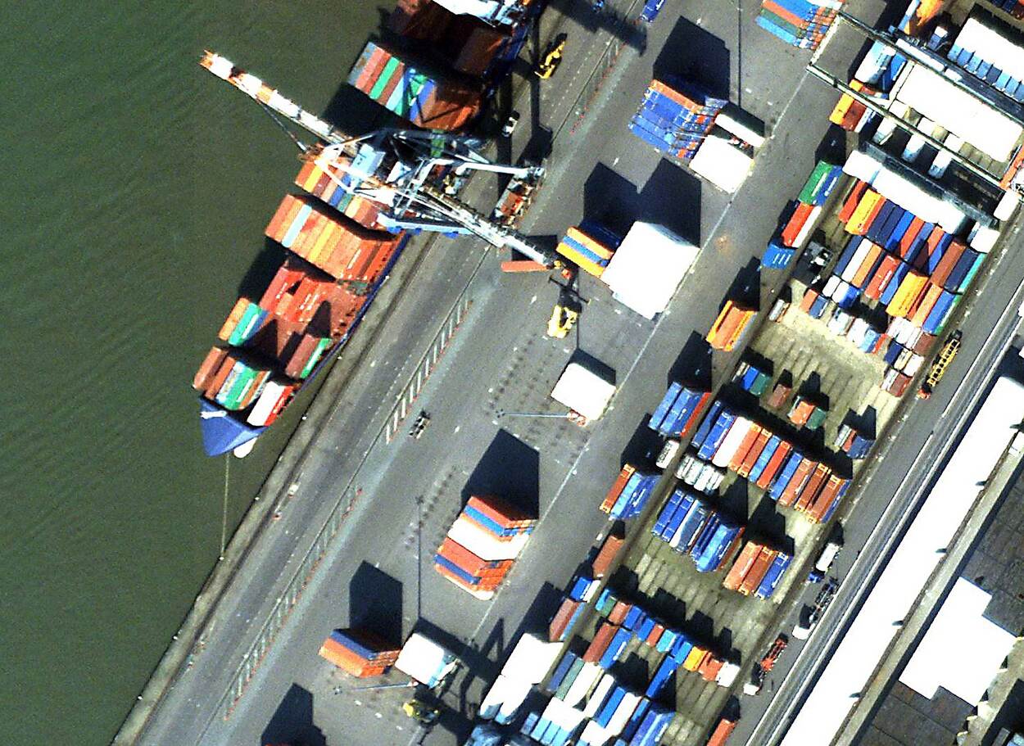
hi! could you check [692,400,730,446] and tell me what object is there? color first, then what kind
blue shipping container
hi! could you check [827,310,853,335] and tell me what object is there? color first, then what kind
white shipping container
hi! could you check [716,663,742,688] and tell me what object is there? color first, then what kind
white shipping container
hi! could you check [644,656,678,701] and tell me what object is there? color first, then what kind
blue shipping container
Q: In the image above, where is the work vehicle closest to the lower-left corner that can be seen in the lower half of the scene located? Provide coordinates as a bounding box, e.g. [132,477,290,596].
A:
[404,700,443,726]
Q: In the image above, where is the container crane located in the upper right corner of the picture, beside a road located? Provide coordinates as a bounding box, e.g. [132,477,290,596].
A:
[805,8,1024,199]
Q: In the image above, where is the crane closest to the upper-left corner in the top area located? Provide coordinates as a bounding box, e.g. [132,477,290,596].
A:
[190,46,558,268]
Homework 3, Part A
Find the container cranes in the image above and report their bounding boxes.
[190,46,558,268]
[805,8,1024,199]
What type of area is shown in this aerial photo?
port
